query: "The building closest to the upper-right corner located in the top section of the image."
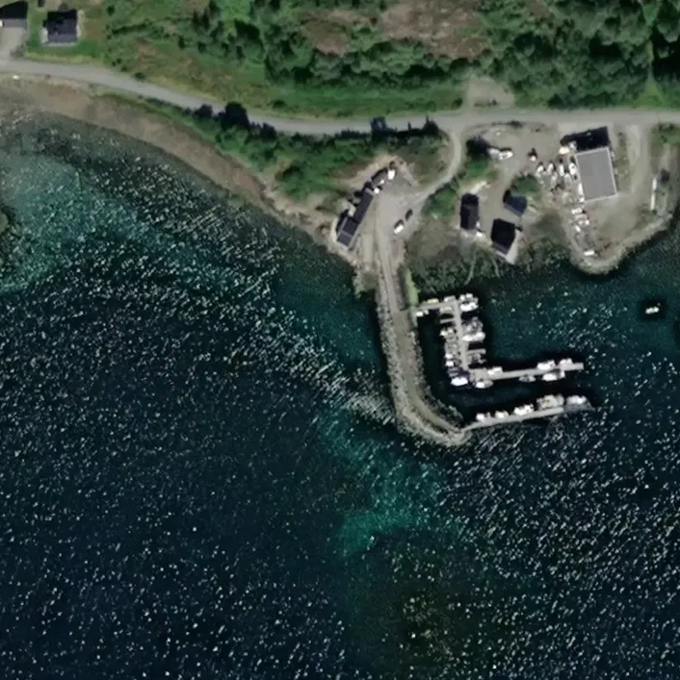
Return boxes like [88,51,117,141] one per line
[575,147,617,202]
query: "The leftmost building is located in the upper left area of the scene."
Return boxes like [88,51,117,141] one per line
[0,15,29,29]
